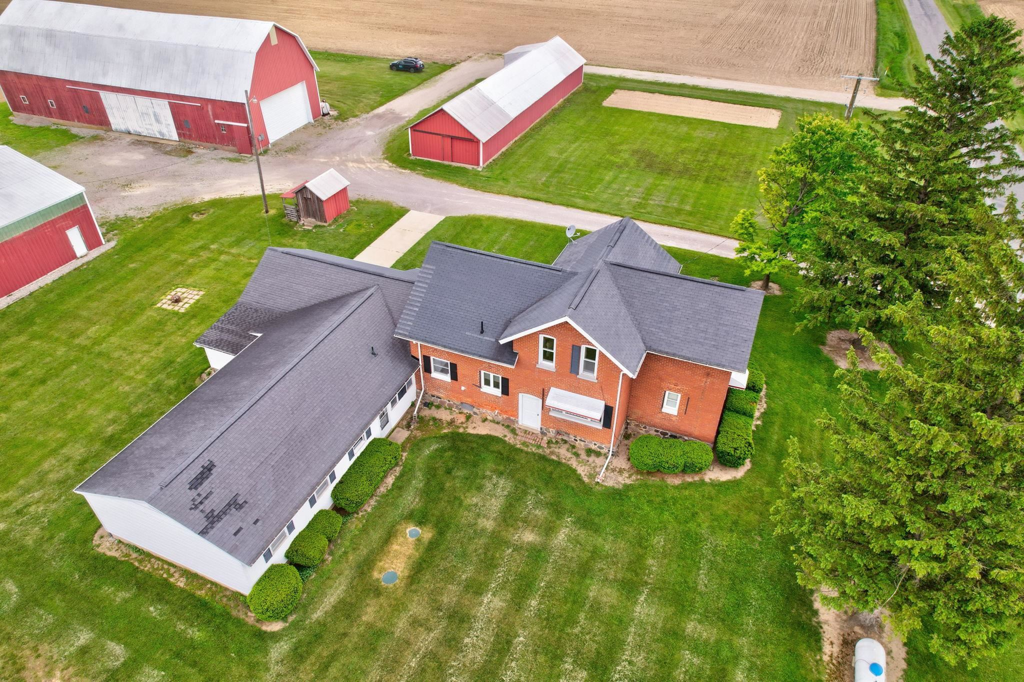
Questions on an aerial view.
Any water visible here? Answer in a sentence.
No, there's no water in this view.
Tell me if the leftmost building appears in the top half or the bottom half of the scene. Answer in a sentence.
You can find the leftmost building in the top half.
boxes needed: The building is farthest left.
[0,143,105,298]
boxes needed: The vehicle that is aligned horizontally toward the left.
[387,54,426,72]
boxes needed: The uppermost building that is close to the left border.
[0,0,323,157]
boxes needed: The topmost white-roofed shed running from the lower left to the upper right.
[404,35,586,166]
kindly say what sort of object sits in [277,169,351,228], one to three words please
shed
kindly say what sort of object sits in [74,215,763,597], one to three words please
house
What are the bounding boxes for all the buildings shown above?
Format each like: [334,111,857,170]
[0,0,323,157]
[74,215,763,597]
[277,169,351,228]
[404,35,586,166]
[0,143,105,298]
